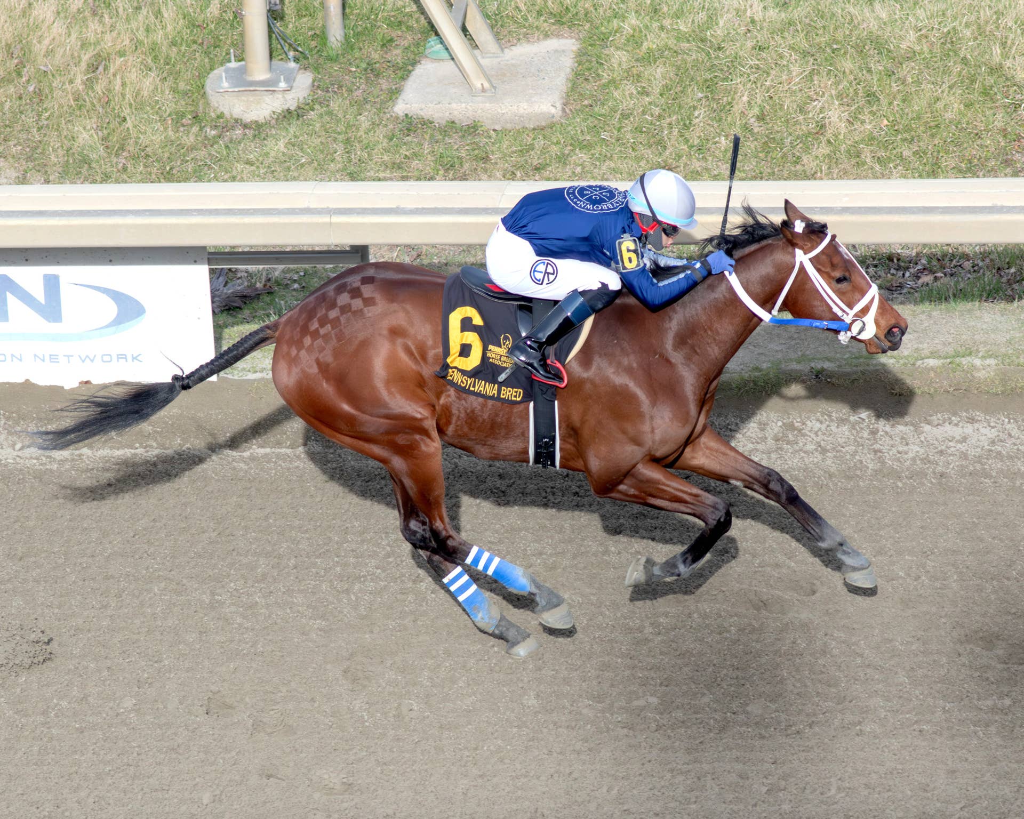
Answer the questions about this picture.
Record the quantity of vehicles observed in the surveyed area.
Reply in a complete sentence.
The count of vehicles is 0.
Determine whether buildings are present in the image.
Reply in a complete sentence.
No, no building can be seen from above.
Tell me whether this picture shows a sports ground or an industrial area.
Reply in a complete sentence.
What you see here is a sports ground.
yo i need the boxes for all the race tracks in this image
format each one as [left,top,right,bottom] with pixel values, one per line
[0,373,1024,819]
